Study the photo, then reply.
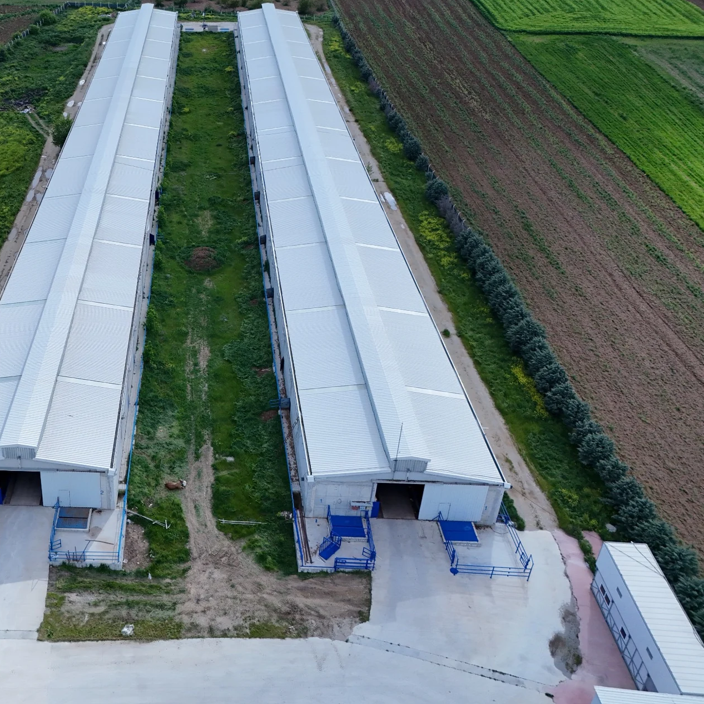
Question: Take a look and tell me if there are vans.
No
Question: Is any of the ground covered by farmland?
Yes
